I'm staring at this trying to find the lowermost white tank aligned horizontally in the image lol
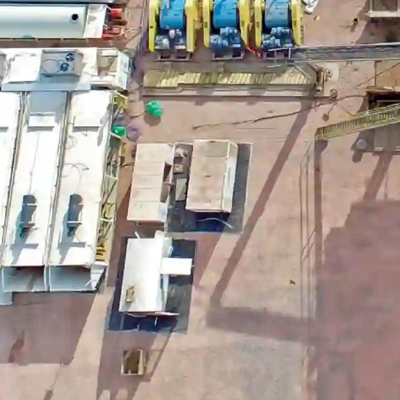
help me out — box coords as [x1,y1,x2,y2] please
[0,3,113,40]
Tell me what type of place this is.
industrial area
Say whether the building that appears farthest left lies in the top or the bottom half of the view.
top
